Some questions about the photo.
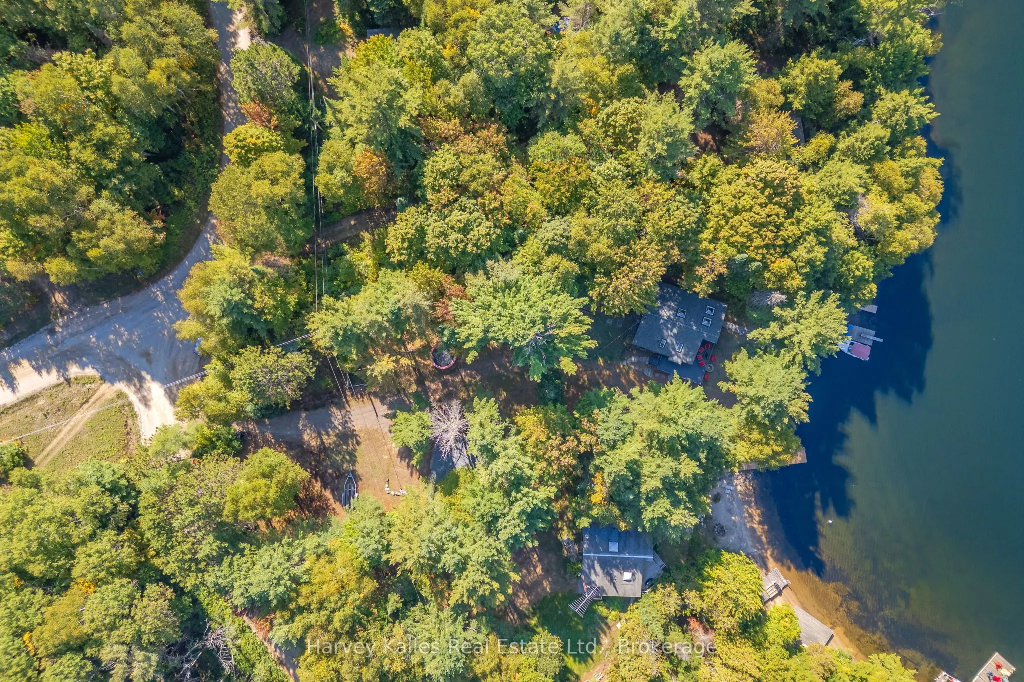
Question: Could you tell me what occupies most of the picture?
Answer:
trees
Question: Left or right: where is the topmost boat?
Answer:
right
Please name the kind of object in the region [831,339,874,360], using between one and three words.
boat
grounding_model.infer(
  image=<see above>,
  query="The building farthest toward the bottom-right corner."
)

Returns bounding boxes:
[577,524,667,599]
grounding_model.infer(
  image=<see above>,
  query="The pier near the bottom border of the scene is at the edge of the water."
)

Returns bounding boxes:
[968,648,1016,682]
